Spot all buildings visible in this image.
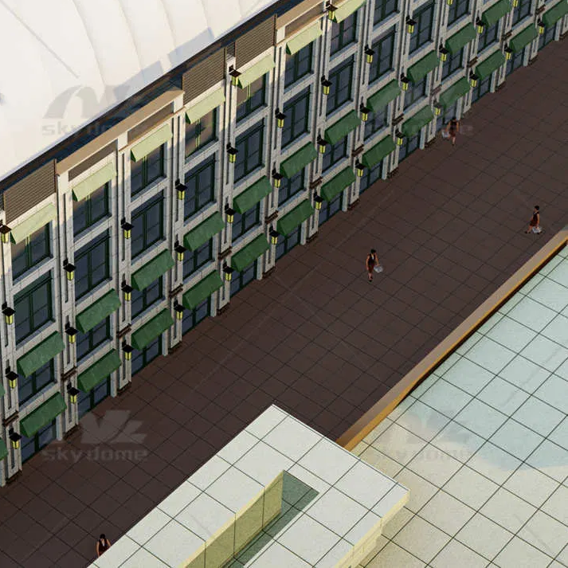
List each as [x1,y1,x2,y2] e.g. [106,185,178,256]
[90,232,568,568]
[0,0,568,479]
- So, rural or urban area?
urban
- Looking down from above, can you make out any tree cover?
No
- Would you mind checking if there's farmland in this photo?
No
